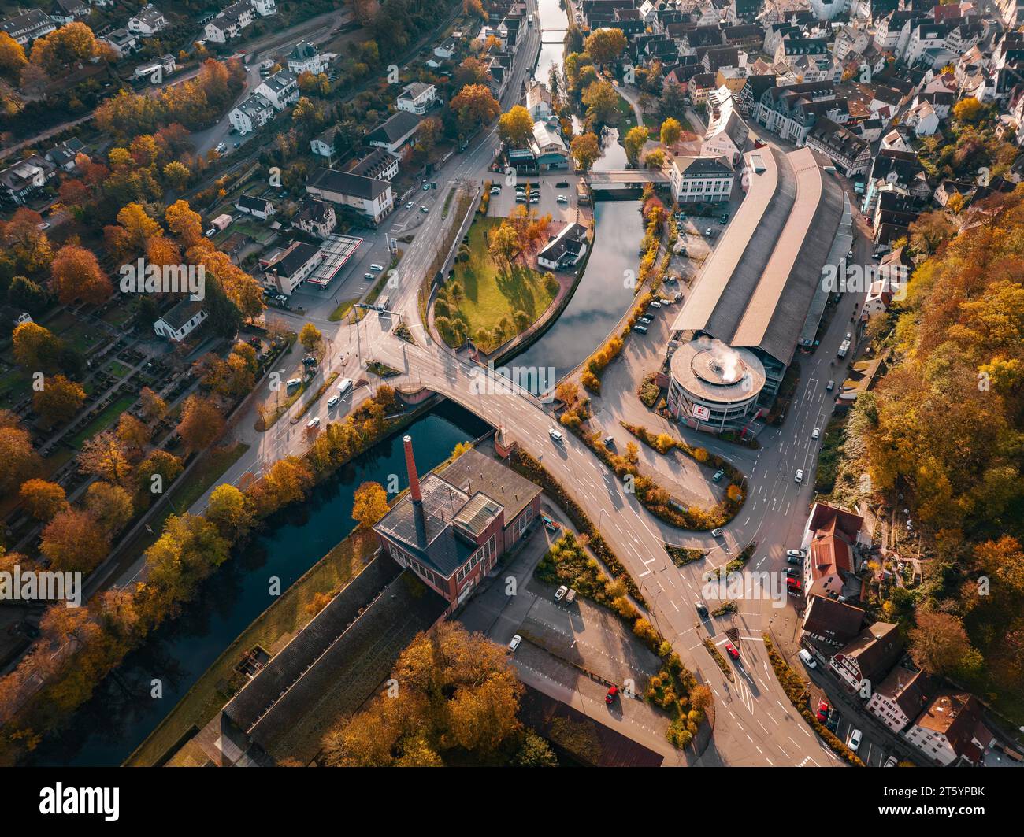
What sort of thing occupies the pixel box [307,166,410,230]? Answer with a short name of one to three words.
house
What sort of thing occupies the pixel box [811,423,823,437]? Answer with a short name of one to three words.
vehicle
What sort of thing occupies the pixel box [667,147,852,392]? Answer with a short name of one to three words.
building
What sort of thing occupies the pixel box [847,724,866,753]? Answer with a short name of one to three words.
car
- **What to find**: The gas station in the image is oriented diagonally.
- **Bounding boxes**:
[302,234,361,291]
